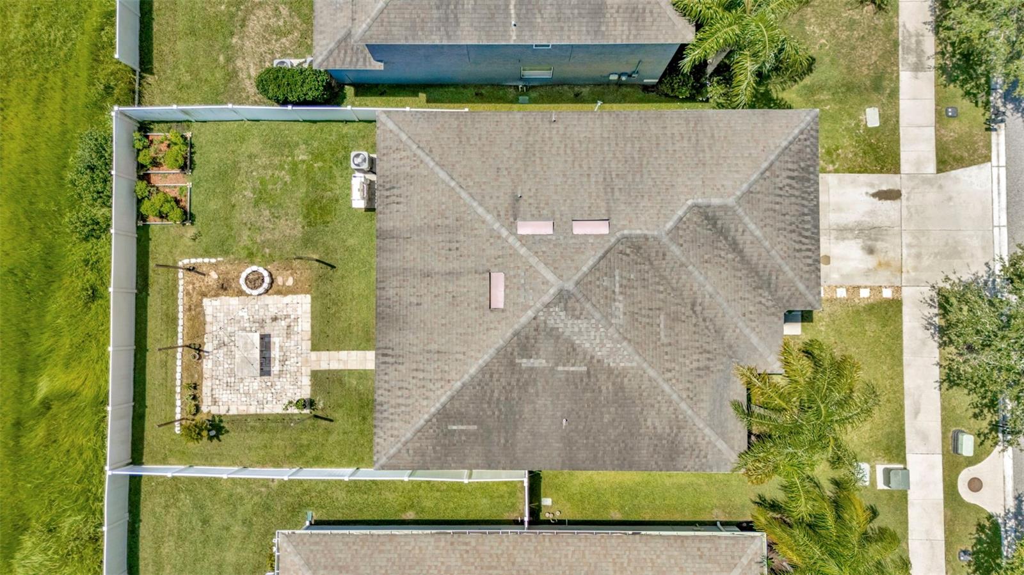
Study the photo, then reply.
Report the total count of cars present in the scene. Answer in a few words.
0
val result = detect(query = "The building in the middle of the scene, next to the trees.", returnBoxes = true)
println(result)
[372,98,823,474]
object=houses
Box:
[372,98,823,474]
[311,0,697,84]
[271,512,766,575]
